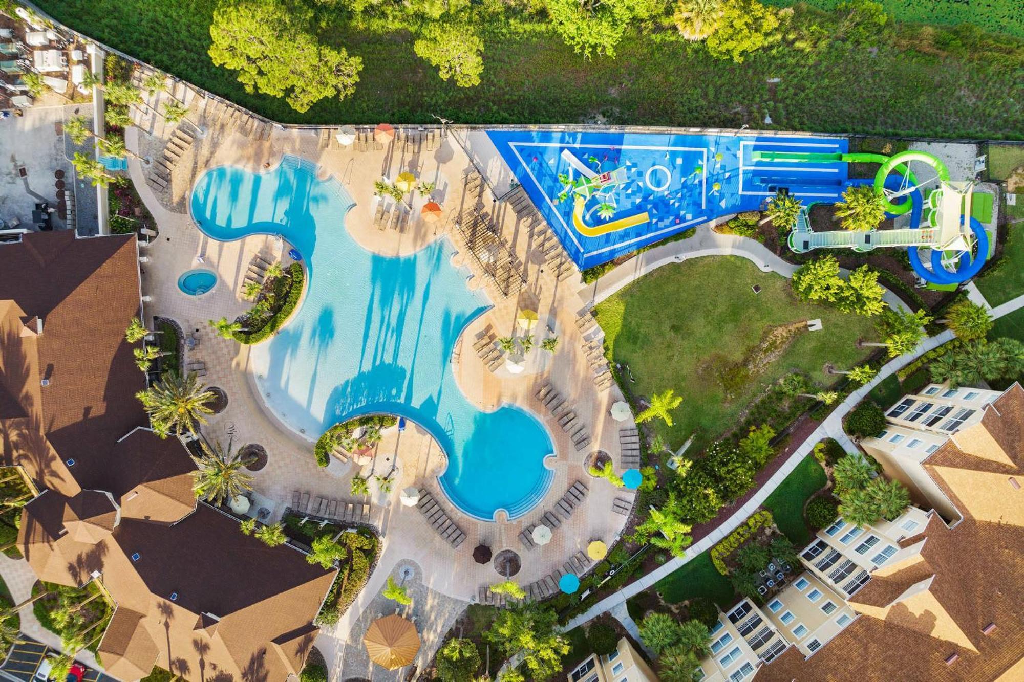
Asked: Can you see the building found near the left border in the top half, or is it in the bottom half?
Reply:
bottom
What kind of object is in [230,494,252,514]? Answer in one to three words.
umbrella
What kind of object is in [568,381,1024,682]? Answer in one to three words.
building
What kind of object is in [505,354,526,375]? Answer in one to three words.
umbrella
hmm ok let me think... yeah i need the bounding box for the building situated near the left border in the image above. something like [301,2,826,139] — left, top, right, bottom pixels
[0,229,340,682]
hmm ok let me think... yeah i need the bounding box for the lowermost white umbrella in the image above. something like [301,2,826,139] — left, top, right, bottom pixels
[531,524,552,545]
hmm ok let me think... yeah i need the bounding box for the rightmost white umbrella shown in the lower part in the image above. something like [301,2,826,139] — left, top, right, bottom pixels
[610,401,631,421]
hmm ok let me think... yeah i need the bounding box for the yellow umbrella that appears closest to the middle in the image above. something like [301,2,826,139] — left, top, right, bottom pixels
[517,309,538,330]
